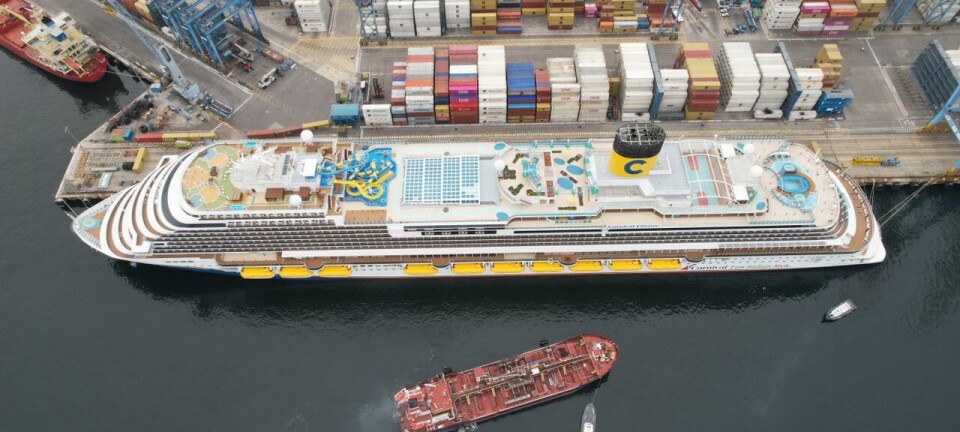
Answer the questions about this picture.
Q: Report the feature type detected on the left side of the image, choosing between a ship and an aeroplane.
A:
ship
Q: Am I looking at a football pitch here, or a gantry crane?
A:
gantry crane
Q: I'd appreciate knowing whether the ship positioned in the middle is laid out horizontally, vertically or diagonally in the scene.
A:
horizontally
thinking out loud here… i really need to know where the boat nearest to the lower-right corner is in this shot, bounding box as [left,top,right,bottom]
[824,300,858,320]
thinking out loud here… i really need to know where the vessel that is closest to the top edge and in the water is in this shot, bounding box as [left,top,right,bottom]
[0,0,112,78]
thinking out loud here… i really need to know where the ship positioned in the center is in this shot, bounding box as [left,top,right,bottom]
[69,120,894,279]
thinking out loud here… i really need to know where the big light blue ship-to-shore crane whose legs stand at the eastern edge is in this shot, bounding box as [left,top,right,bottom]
[913,87,960,140]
